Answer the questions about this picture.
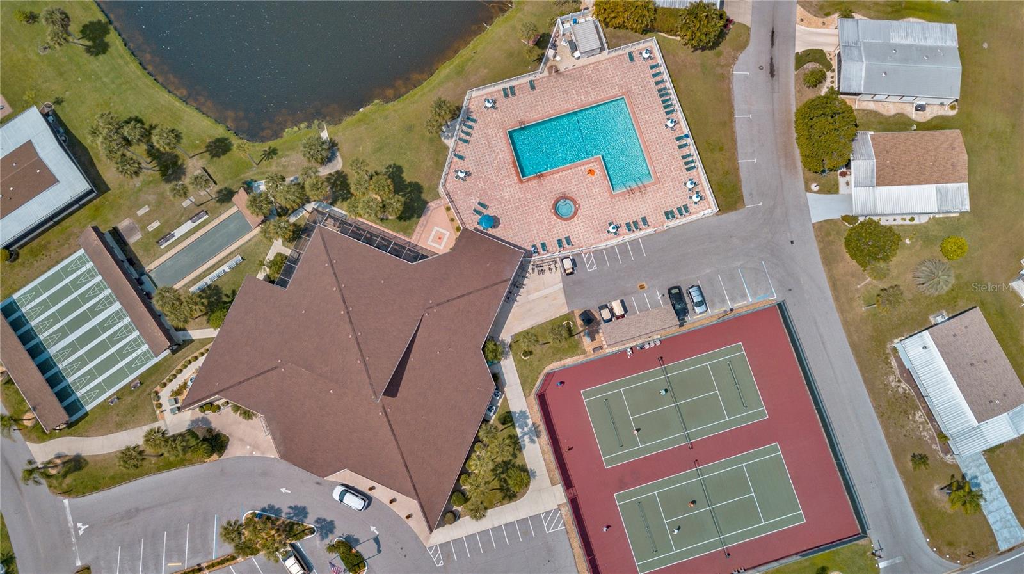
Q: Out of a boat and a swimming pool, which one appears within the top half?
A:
swimming pool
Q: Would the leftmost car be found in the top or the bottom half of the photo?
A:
bottom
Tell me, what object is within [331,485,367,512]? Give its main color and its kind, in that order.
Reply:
white car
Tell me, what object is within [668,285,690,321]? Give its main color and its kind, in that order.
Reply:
black car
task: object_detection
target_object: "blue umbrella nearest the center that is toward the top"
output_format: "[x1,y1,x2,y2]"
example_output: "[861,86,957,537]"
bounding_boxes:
[477,210,495,227]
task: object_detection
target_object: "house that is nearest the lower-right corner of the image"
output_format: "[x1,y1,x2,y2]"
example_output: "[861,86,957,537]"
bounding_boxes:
[895,308,1024,457]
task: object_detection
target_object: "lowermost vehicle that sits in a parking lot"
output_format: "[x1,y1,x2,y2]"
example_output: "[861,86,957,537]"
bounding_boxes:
[282,542,311,574]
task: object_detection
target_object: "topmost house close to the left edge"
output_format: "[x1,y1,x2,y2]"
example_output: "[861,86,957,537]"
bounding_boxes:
[0,107,97,249]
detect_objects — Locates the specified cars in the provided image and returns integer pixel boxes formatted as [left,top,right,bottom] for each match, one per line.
[282,542,311,574]
[687,283,709,316]
[668,285,690,321]
[331,485,367,512]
